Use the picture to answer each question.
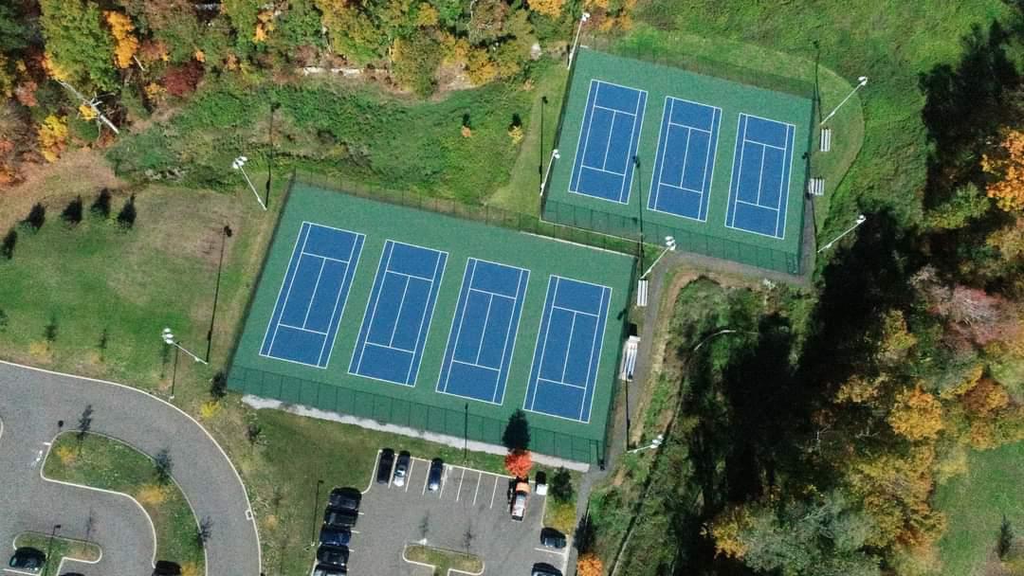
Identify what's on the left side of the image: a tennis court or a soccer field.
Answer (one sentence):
What appears on the left side of the image is a tennis court.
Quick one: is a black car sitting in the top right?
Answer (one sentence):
No, no black car appears in the top right.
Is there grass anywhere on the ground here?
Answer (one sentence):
Yes, there is grass in the image.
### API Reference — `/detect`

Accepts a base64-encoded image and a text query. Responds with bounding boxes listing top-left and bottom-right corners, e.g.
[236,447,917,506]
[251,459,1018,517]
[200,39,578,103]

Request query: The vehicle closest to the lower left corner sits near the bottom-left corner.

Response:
[9,551,42,568]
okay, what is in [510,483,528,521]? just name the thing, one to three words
vehicle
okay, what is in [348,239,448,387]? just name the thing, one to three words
tennis court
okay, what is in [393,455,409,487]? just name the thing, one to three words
car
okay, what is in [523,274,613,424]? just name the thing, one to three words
tennis court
